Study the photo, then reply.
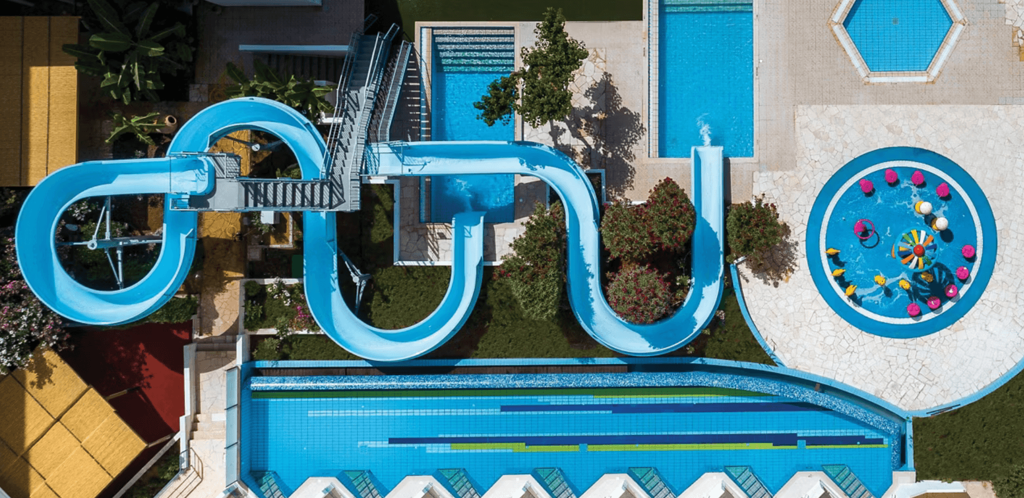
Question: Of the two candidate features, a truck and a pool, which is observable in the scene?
pool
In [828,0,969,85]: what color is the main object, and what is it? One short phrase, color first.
blue swimming pool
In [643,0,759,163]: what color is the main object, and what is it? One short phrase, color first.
blue swimming pool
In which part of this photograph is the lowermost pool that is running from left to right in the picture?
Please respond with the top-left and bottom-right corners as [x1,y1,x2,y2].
[239,358,913,498]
